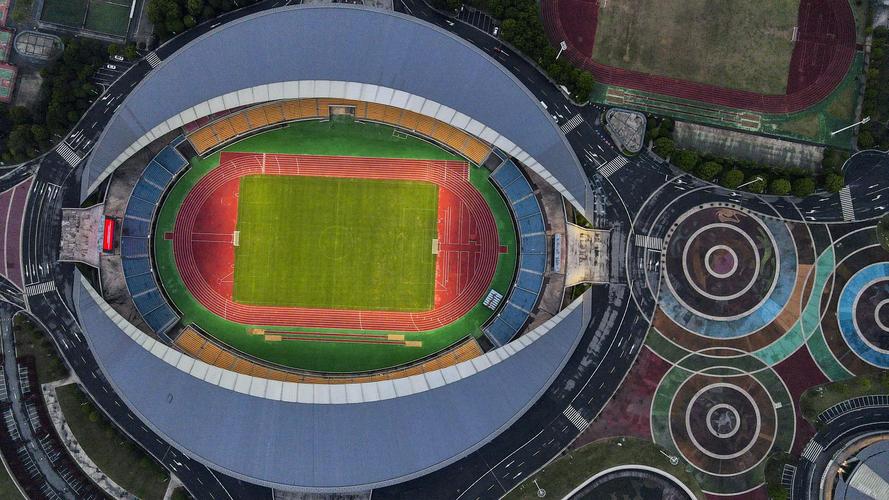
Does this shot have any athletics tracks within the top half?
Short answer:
Yes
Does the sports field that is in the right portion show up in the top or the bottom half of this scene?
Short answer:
top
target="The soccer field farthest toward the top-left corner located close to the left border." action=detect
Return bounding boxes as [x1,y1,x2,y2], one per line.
[41,0,88,30]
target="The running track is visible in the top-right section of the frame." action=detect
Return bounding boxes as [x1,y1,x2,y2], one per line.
[541,0,863,105]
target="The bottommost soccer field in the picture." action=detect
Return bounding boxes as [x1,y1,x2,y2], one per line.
[234,176,438,311]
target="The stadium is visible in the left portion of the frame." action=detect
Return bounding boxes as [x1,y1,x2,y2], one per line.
[55,0,614,500]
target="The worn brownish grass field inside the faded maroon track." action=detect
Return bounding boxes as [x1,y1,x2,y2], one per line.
[591,0,800,95]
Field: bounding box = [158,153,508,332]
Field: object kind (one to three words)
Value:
running track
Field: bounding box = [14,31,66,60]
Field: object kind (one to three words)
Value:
sports court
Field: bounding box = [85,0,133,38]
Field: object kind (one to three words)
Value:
soccer field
